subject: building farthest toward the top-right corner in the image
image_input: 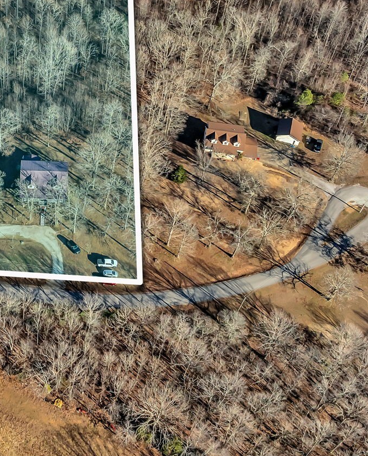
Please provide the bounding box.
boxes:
[275,118,305,147]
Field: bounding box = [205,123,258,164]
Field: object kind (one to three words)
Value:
house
